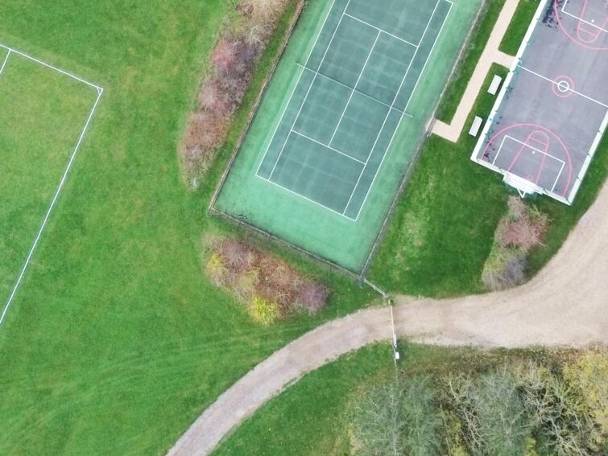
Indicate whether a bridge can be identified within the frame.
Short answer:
No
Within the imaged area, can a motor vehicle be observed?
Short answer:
No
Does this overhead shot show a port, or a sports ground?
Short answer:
sports ground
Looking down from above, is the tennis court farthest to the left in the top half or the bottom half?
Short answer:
top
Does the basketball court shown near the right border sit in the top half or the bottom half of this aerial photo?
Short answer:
top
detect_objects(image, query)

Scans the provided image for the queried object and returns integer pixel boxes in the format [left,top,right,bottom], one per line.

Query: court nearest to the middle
[214,0,483,271]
